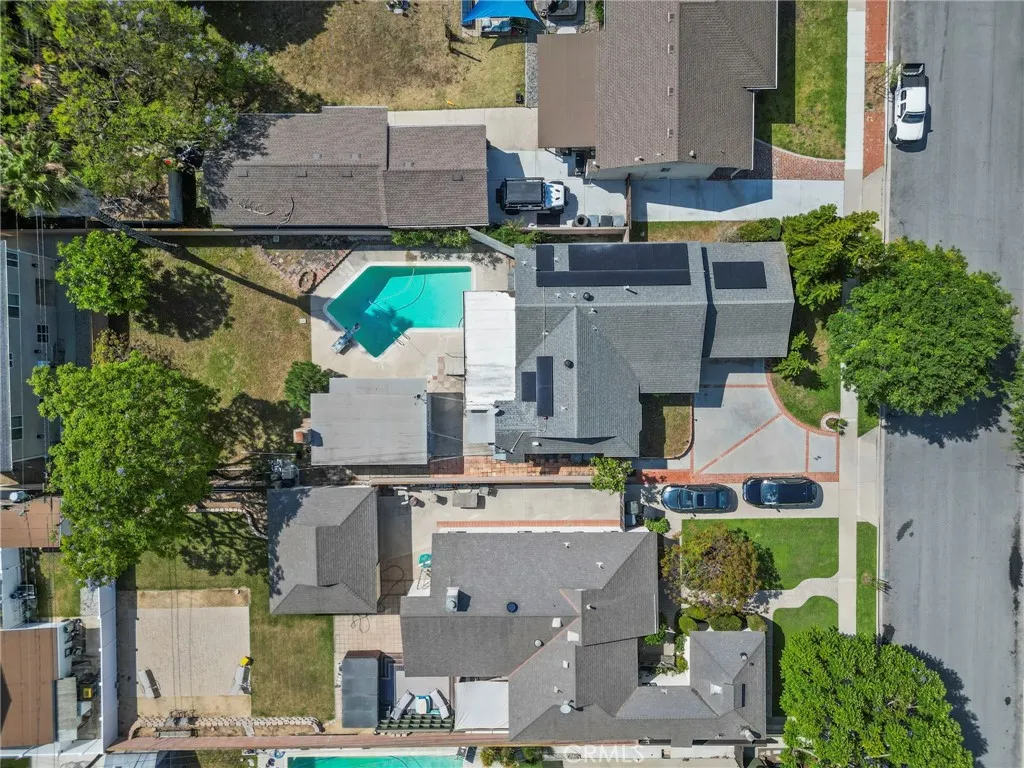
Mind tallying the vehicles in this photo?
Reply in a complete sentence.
In total, there are 4 vehicles in the scene.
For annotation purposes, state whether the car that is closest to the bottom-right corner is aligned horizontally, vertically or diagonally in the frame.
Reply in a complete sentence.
The car that is closest to the bottom-right corner is oriented horizontally.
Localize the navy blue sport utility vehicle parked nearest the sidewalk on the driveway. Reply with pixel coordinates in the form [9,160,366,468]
[743,480,820,514]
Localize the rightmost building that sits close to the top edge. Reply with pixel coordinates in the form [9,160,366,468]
[594,0,779,179]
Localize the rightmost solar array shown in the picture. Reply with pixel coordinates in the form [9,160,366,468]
[713,261,767,288]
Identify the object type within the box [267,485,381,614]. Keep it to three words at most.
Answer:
building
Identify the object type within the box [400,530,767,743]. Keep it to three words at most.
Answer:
house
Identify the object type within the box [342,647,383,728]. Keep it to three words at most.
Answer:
shed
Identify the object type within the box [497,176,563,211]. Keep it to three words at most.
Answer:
vehicle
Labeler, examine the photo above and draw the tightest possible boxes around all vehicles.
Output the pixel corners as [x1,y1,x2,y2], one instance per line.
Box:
[497,176,563,211]
[743,480,820,514]
[660,484,733,516]
[887,64,931,147]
